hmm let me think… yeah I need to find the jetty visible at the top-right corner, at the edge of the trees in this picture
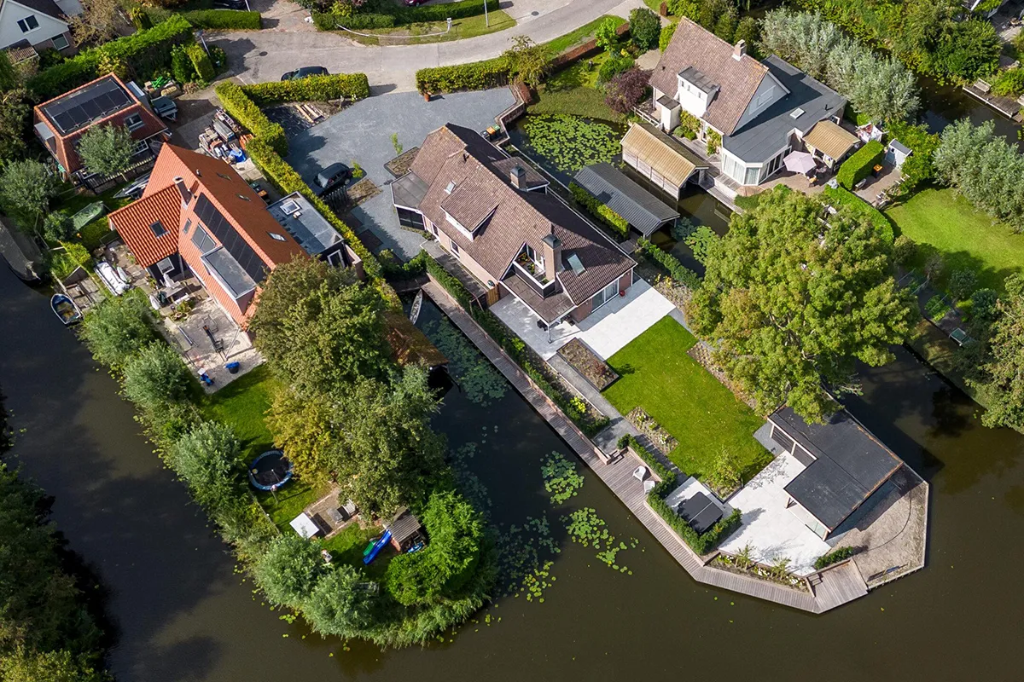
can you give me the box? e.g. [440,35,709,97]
[960,82,1024,123]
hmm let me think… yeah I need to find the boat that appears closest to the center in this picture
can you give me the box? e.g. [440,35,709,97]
[410,290,422,325]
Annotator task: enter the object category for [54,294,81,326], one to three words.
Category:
boat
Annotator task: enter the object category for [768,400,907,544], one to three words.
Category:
building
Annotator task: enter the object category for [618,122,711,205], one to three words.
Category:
building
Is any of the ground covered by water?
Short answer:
Yes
